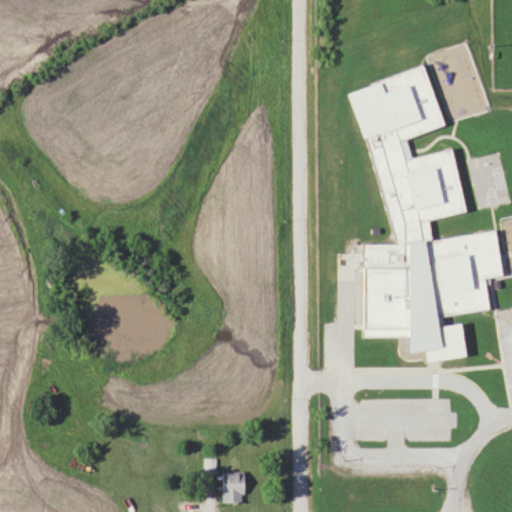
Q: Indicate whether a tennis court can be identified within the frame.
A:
No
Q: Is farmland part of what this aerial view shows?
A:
Yes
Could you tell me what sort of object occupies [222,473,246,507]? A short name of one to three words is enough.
house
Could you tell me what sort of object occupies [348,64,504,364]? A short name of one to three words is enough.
building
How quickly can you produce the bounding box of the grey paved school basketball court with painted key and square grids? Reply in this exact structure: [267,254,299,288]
[469,153,510,210]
